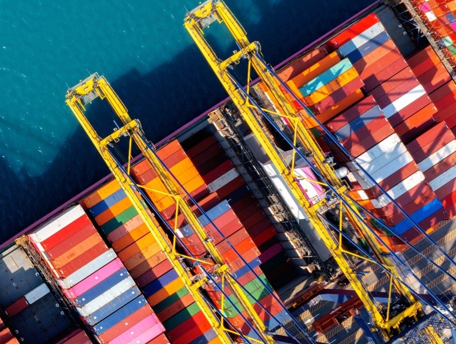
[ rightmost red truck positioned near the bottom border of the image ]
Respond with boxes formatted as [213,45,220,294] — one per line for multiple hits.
[313,300,360,337]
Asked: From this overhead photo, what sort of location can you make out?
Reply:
port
